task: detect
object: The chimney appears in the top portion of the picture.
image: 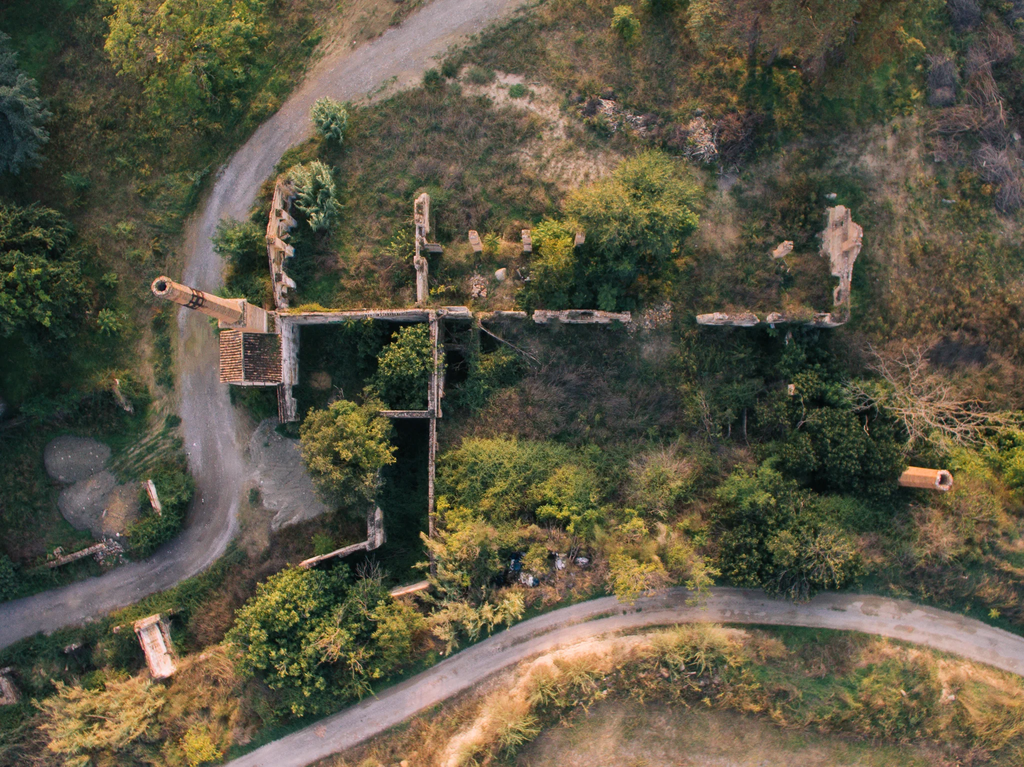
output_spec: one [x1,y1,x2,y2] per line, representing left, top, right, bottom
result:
[155,279,277,333]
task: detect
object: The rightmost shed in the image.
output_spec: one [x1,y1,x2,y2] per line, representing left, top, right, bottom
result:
[218,331,285,392]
